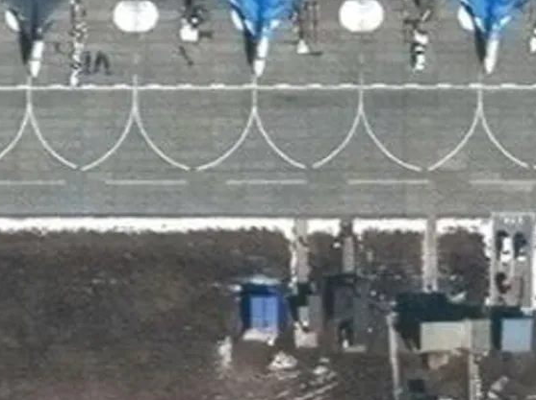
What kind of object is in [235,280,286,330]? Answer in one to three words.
shed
